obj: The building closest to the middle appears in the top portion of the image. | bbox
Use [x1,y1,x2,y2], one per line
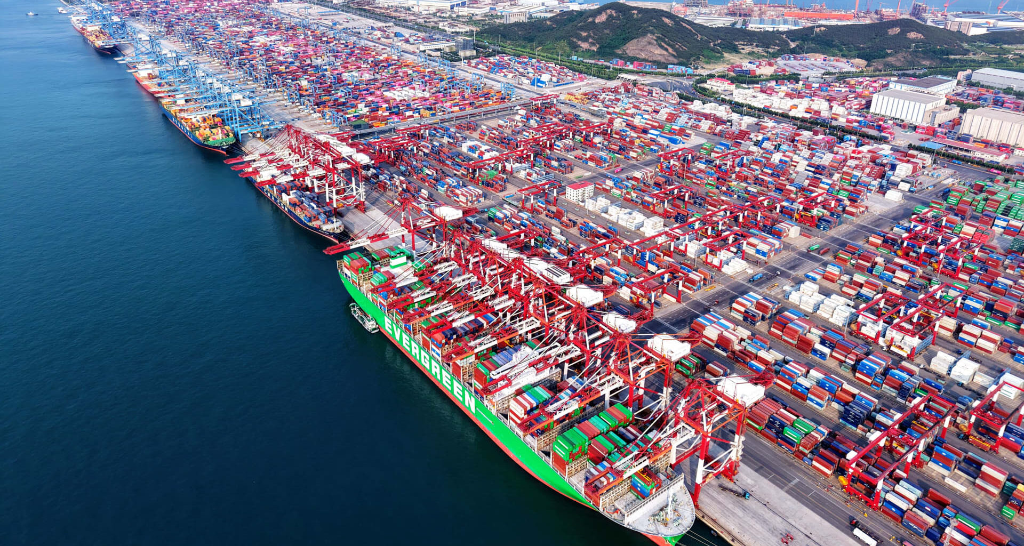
[569,180,599,203]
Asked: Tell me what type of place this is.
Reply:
port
